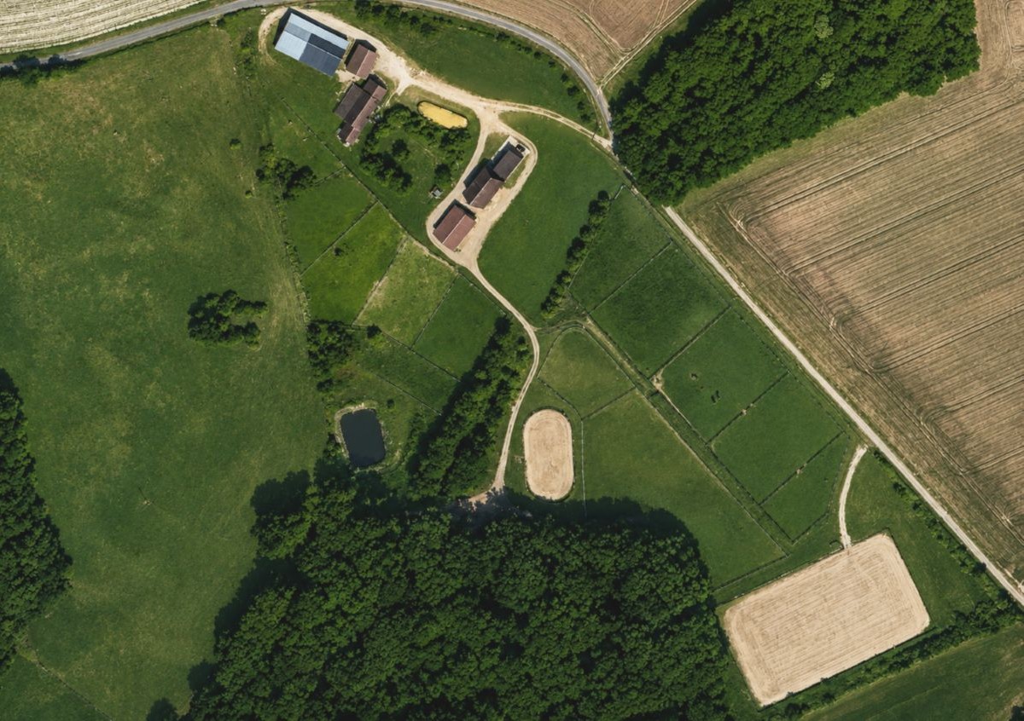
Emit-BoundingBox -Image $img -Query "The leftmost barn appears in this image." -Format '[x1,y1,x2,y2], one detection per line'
[274,12,349,75]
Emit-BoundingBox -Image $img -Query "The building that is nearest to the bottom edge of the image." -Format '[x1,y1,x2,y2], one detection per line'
[434,205,475,250]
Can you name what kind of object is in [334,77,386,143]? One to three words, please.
house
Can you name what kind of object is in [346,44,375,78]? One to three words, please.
house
